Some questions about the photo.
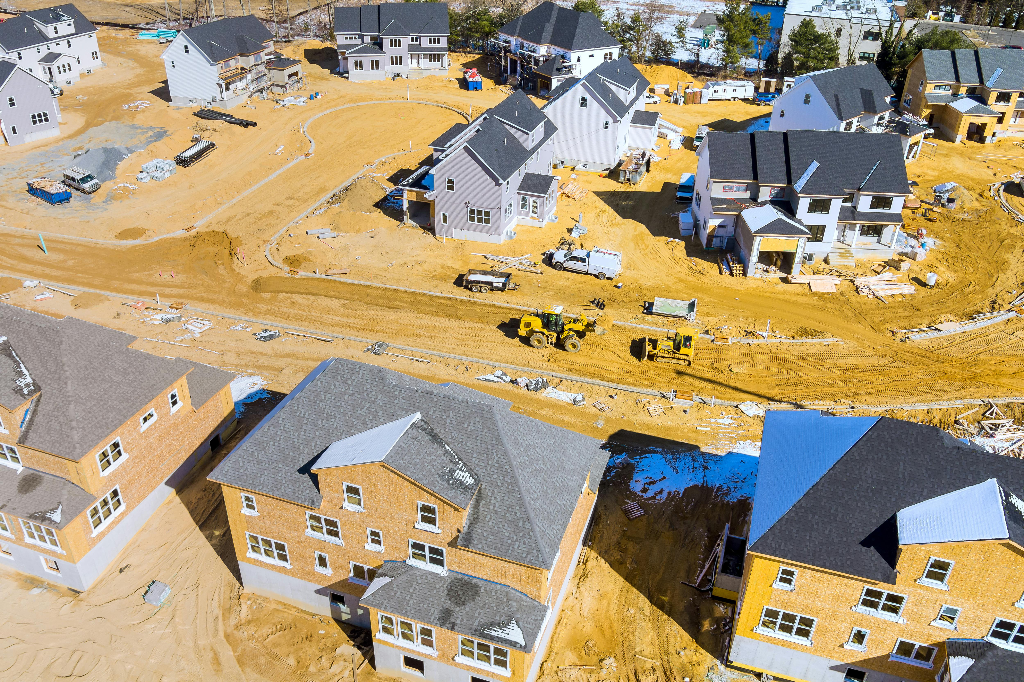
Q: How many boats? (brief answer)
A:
0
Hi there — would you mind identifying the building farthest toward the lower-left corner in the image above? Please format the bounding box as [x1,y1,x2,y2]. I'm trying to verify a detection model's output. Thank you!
[0,297,240,589]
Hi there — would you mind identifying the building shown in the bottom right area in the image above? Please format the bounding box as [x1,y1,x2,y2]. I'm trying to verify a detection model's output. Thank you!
[707,411,1024,682]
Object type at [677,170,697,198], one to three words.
vehicle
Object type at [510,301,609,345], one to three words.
work vehicle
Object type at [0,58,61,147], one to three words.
house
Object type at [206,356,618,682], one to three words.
house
